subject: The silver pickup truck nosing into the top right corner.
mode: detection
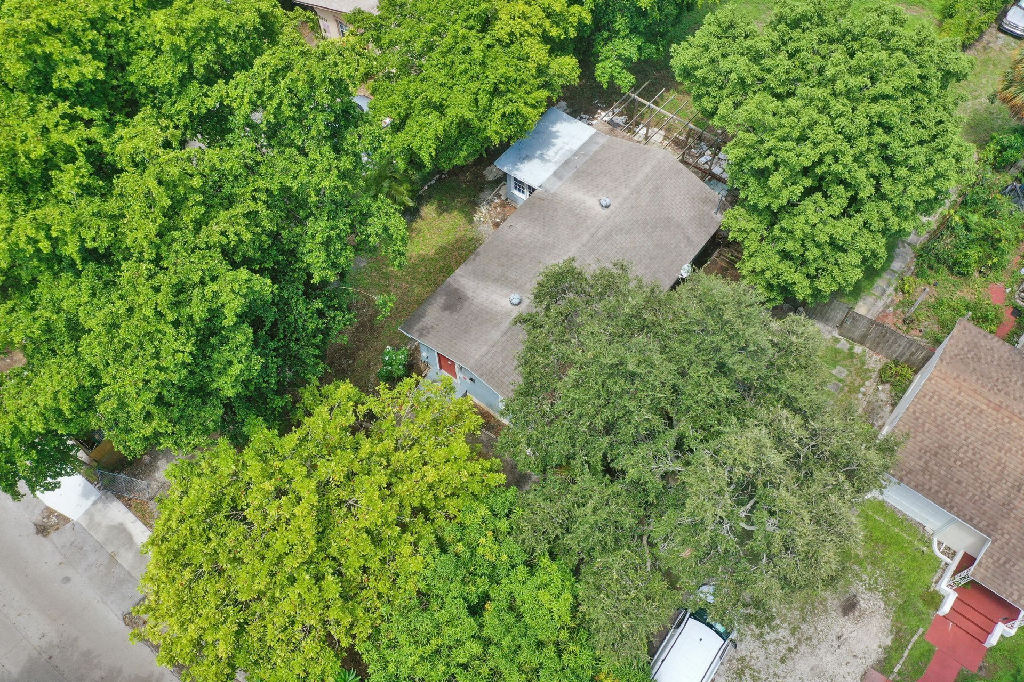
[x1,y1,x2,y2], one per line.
[1003,3,1024,41]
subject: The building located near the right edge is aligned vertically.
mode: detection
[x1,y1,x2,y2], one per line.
[867,318,1024,651]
